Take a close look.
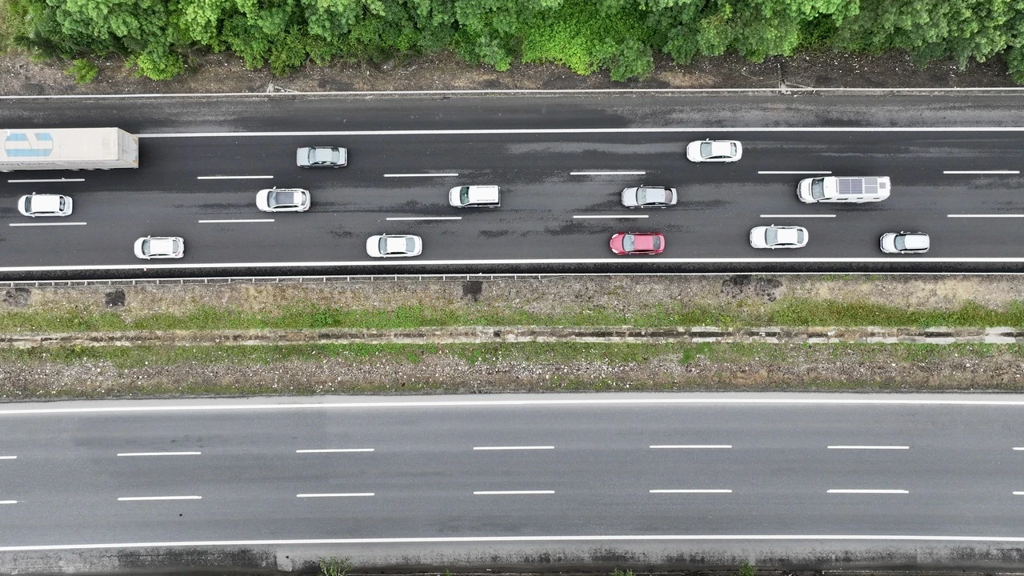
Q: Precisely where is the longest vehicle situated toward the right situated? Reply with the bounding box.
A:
[795,175,889,205]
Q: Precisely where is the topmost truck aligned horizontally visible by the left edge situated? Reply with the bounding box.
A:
[0,127,141,172]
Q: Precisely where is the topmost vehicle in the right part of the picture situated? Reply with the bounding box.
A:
[685,137,743,164]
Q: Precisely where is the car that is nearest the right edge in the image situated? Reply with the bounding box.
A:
[878,229,930,256]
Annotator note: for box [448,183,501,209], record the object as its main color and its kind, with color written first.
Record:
white car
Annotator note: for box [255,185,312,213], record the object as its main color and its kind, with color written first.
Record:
white car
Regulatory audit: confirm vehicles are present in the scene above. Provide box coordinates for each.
[685,137,743,164]
[17,191,76,217]
[795,175,889,205]
[255,185,312,213]
[296,143,349,169]
[608,230,665,256]
[366,232,423,259]
[621,183,678,210]
[878,229,930,256]
[0,127,141,172]
[134,234,187,260]
[748,223,809,250]
[448,183,501,209]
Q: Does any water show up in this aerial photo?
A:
No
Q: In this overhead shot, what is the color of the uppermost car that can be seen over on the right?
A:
white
